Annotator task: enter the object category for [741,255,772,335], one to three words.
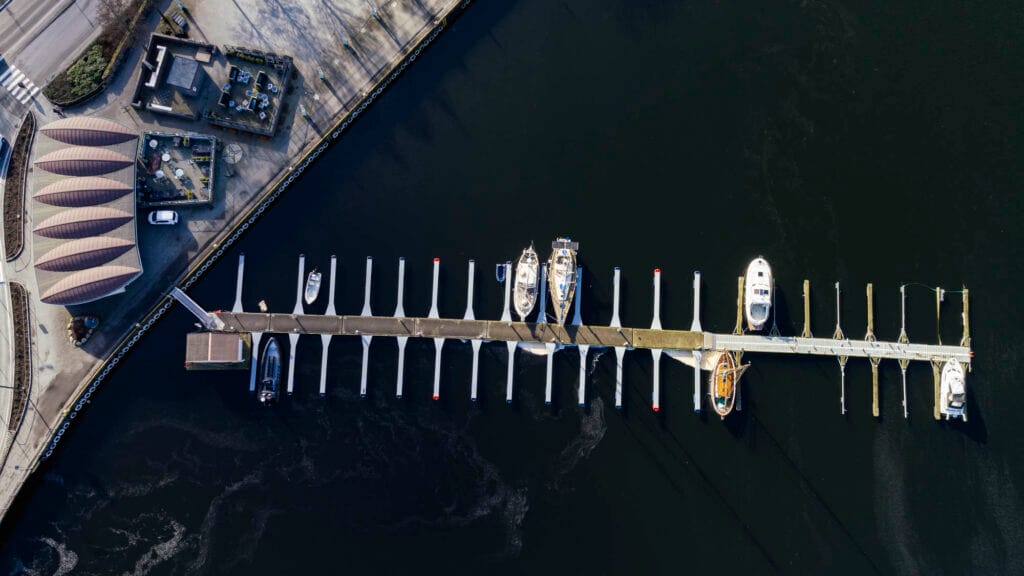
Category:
boat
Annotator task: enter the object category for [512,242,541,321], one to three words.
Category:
boat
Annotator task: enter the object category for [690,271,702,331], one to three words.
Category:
pier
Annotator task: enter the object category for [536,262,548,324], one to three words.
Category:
pier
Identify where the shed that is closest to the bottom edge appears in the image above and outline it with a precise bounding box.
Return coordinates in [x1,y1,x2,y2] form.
[186,332,252,370]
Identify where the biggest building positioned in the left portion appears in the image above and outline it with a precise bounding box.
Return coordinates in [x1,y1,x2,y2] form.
[32,117,151,307]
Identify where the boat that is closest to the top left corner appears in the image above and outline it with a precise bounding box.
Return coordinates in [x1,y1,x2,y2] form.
[305,269,321,304]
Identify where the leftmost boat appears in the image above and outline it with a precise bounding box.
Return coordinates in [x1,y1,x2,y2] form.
[258,336,282,405]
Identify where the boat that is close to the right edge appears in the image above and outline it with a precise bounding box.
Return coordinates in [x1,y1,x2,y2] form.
[940,357,977,421]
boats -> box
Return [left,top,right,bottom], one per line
[709,347,752,420]
[741,255,772,335]
[496,263,505,282]
[940,357,977,421]
[549,238,580,325]
[512,242,541,321]
[258,336,282,405]
[305,269,321,304]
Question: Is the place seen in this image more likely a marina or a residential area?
marina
